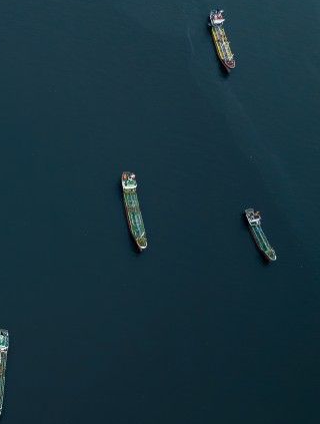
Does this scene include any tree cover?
No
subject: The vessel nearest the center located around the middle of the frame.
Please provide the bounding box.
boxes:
[122,171,147,253]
